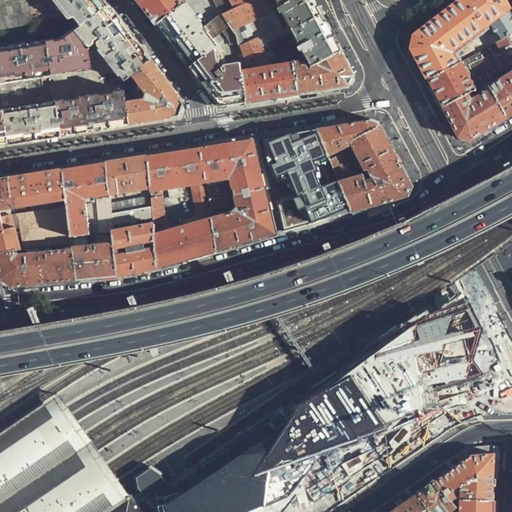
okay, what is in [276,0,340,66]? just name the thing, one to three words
house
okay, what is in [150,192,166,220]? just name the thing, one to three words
house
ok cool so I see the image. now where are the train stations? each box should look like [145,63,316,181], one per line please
[0,394,129,512]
